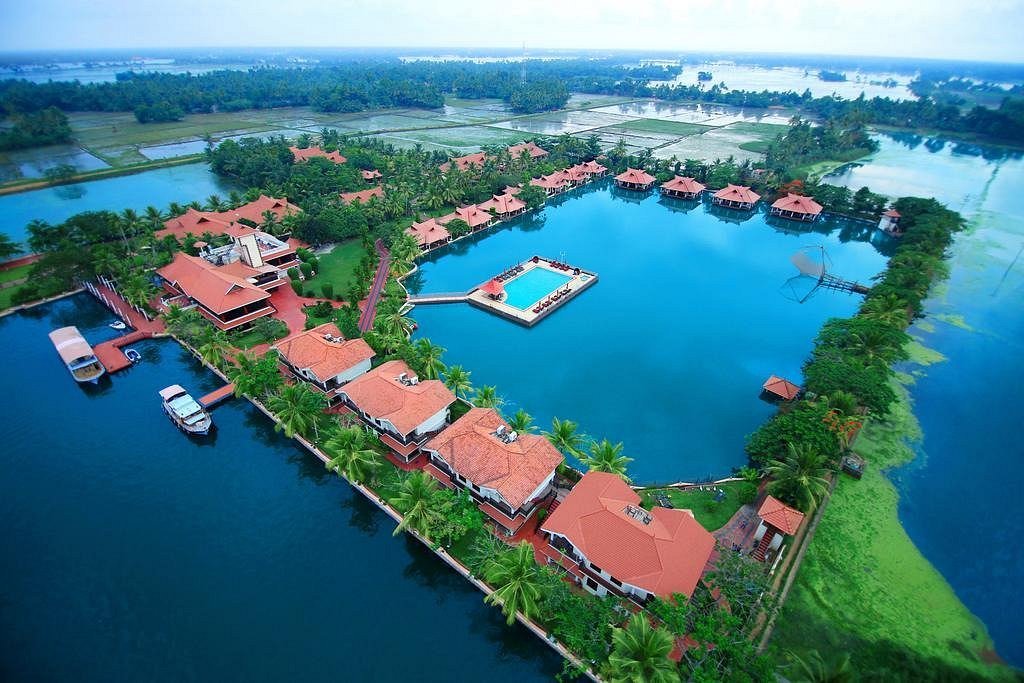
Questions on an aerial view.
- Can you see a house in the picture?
Yes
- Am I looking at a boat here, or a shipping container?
boat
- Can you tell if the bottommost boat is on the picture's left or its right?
left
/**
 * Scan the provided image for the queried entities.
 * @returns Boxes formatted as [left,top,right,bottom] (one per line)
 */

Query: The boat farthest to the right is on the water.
[156,384,213,436]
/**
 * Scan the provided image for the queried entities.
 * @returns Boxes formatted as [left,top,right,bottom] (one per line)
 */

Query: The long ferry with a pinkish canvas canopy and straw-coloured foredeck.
[46,326,104,384]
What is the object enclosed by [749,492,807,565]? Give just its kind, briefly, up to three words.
building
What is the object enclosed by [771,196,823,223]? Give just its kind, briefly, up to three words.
house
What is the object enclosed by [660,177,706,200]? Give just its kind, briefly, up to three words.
house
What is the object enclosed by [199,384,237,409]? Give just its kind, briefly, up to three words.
pier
